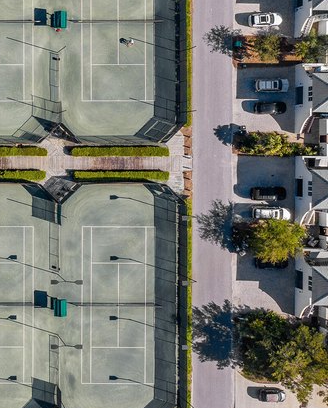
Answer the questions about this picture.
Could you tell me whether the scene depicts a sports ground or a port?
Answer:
sports ground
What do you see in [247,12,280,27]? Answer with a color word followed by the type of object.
white car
